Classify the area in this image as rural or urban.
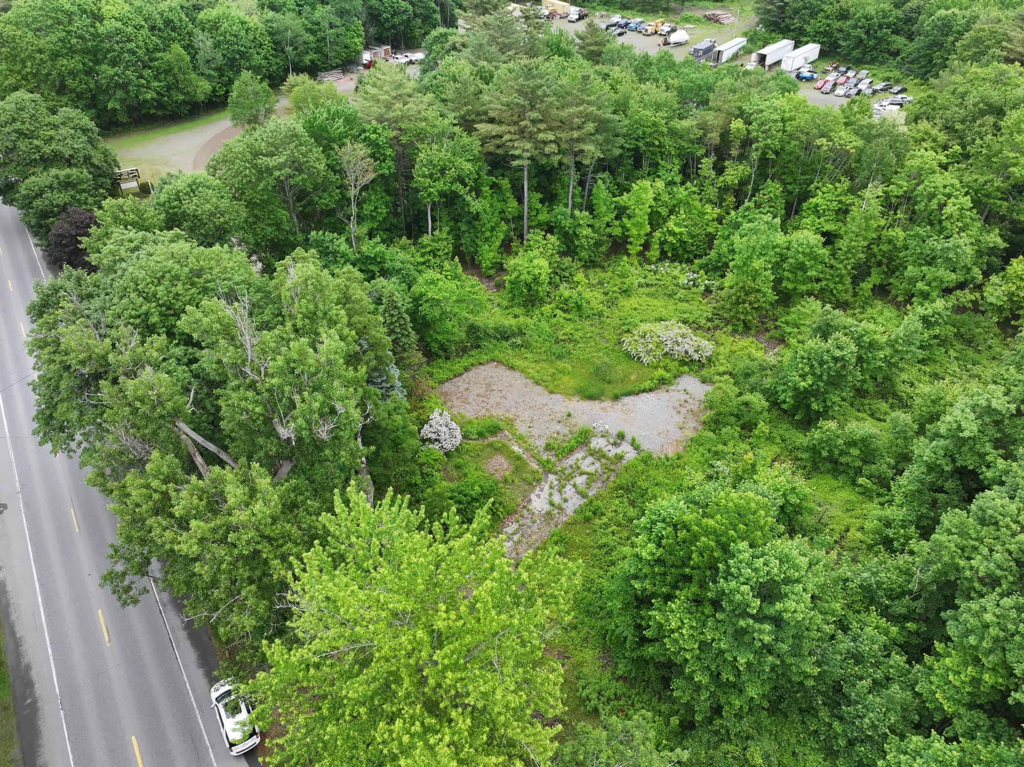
rural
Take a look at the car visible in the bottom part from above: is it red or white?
white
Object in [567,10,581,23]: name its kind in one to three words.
vehicle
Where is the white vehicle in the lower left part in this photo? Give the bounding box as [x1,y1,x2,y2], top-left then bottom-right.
[213,689,265,758]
